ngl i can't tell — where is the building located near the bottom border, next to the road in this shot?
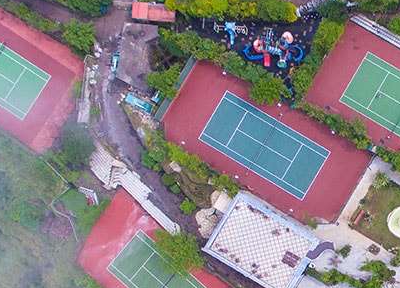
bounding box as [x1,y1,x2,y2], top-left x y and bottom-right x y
[201,189,335,288]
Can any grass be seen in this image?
Yes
